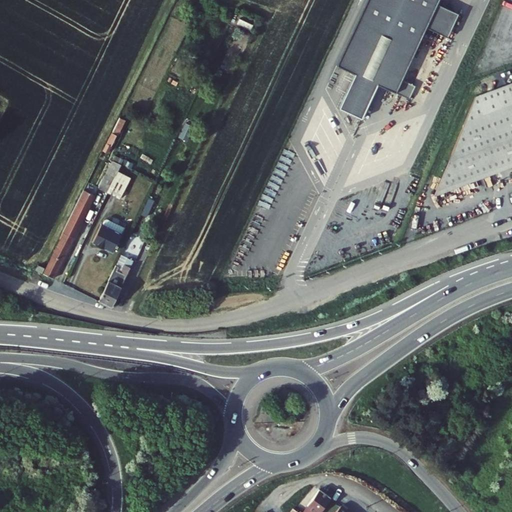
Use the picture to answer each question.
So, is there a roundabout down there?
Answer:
Yes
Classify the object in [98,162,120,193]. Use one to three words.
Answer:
shed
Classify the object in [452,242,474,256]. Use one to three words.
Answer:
vehicle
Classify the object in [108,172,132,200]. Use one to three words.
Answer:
building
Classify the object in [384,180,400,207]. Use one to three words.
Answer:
vehicle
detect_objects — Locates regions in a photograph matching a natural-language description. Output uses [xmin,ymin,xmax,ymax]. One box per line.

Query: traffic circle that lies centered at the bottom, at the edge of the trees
[224,357,338,472]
